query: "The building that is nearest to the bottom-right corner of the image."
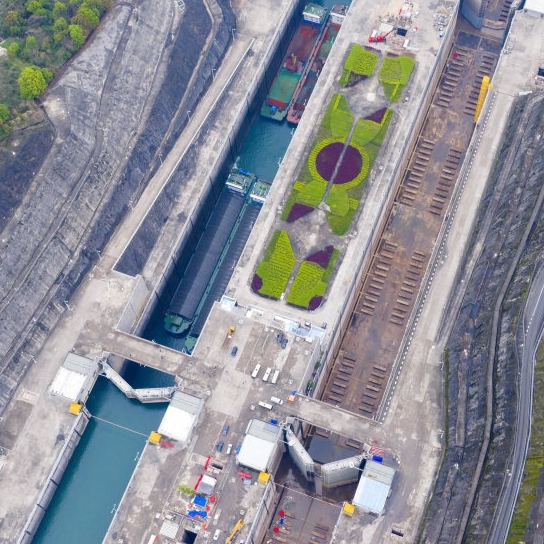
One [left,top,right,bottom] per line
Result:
[352,459,396,516]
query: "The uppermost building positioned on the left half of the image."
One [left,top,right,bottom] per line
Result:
[48,352,96,405]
